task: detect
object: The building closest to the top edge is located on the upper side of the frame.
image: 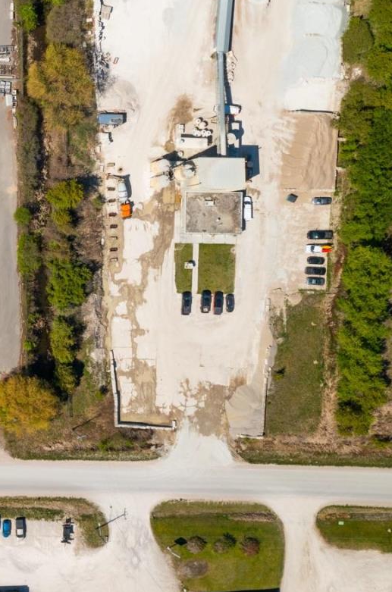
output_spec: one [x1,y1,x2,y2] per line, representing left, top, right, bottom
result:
[179,157,251,193]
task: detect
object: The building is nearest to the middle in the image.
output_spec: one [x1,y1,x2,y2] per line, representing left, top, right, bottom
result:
[180,193,244,233]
